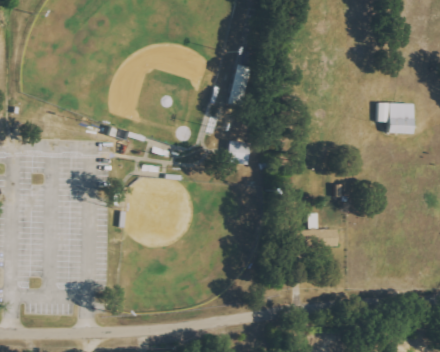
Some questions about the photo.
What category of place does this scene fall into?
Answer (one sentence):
The picture captures a sports ground.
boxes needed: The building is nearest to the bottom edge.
[301,229,340,246]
